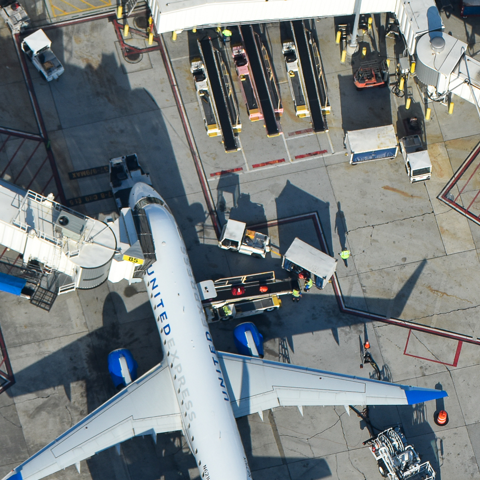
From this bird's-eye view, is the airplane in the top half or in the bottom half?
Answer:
bottom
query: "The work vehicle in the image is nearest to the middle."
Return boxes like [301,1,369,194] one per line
[214,221,273,265]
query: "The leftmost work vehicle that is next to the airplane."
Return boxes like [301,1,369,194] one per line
[106,152,149,209]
